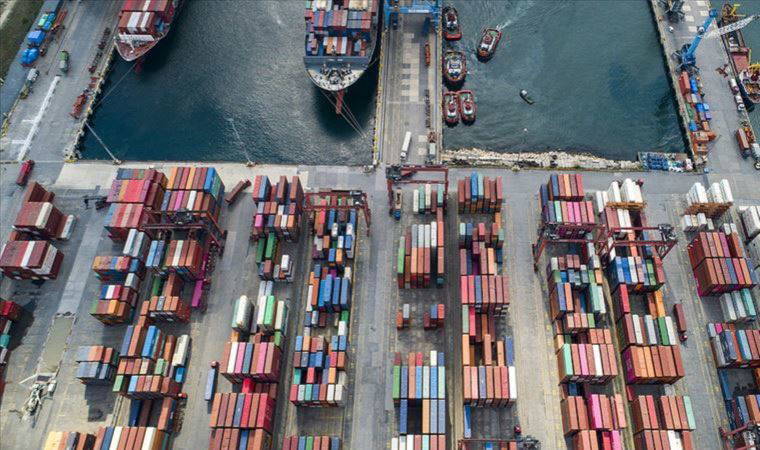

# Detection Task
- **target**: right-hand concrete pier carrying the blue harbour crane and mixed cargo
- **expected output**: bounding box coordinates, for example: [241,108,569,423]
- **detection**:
[646,0,760,169]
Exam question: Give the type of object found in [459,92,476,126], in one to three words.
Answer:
boat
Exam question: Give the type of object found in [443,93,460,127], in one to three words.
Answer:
boat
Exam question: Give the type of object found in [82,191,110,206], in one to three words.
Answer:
work vehicle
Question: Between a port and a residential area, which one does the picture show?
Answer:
port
